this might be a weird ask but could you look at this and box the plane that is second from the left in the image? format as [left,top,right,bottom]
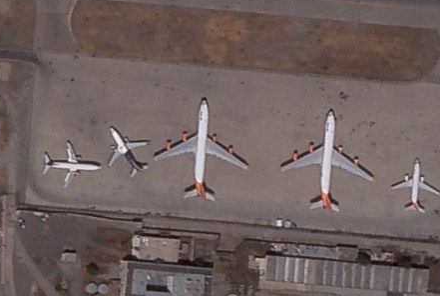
[112,127,151,178]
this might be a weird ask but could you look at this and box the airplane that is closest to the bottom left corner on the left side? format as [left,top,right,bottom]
[46,142,102,189]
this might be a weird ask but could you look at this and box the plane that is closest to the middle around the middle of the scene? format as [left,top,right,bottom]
[154,99,250,201]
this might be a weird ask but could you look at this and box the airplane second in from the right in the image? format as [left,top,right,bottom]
[282,109,377,210]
